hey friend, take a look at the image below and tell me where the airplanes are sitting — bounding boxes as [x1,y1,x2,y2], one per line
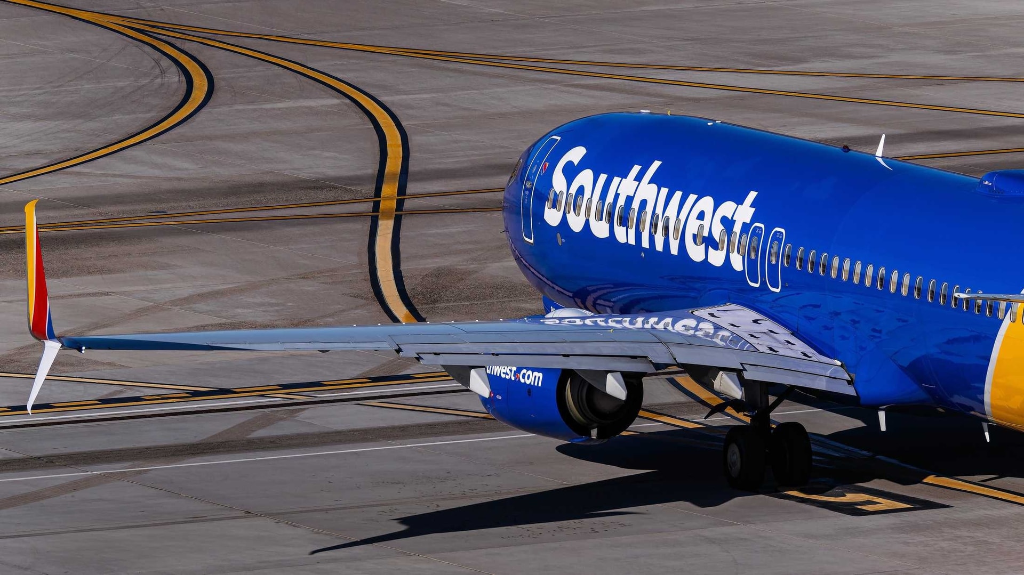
[25,110,1024,492]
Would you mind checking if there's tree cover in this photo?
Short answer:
No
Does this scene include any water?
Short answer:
No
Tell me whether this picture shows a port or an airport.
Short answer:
airport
